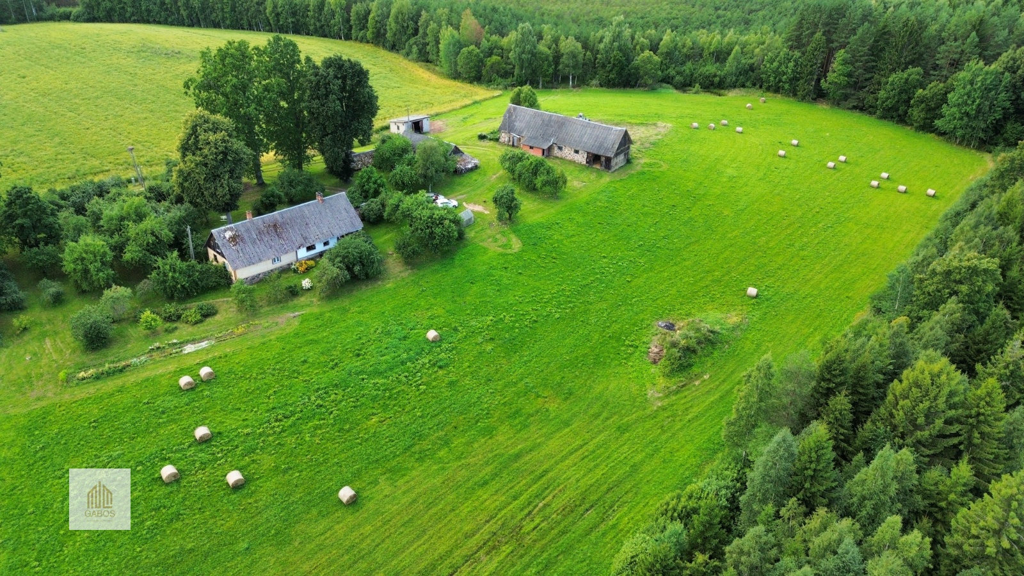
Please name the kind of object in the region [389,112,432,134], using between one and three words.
building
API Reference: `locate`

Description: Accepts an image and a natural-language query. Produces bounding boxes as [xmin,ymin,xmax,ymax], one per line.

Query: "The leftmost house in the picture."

[203,191,365,286]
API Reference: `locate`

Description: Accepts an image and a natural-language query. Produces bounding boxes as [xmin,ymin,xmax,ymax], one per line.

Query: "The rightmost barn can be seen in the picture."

[497,103,634,172]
